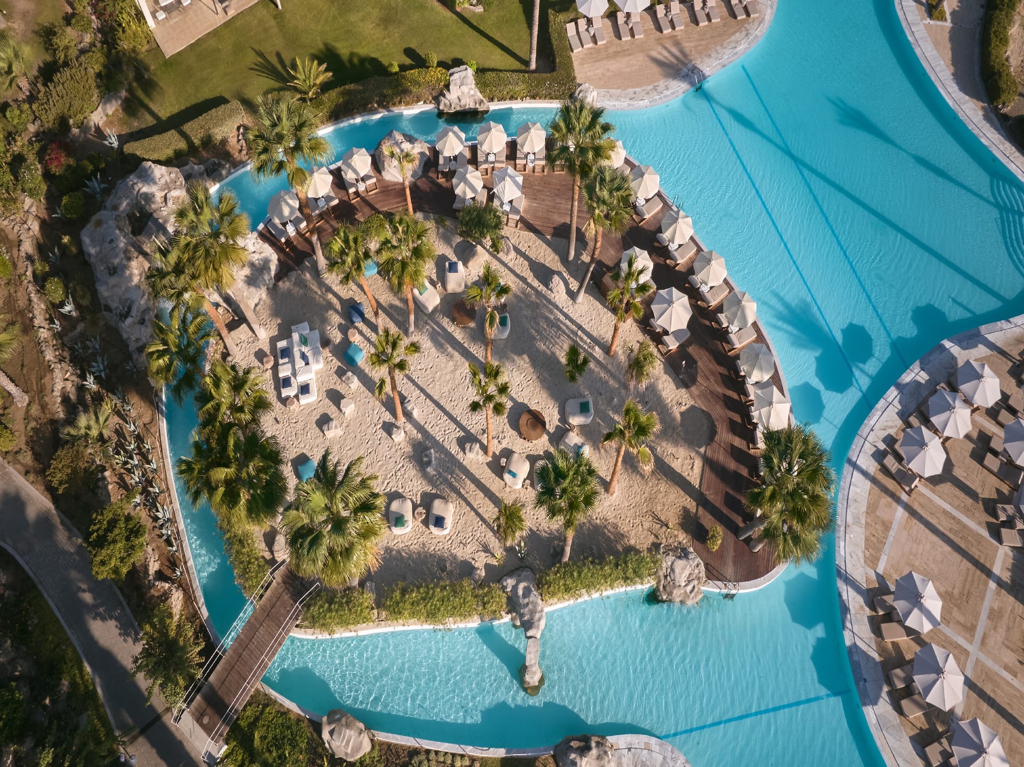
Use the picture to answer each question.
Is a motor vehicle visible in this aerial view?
No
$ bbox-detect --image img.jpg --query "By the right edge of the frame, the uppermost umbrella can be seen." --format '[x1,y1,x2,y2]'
[956,357,999,409]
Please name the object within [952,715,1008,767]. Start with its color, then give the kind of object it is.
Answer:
gray umbrella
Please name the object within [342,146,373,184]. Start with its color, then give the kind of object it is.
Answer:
white umbrella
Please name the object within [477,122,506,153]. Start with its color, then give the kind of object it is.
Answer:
white umbrella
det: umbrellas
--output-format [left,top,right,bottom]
[956,357,999,409]
[910,645,964,711]
[436,125,466,163]
[492,167,523,200]
[603,137,633,173]
[692,250,726,295]
[650,287,692,338]
[269,189,301,227]
[894,570,945,634]
[578,0,609,21]
[952,715,1008,767]
[304,165,334,212]
[724,290,756,328]
[452,166,482,212]
[661,209,693,256]
[342,146,373,184]
[629,166,659,209]
[738,341,773,388]
[622,247,653,280]
[515,123,544,168]
[617,0,650,21]
[477,122,506,153]
[752,383,793,432]
[928,388,972,441]
[899,422,946,479]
